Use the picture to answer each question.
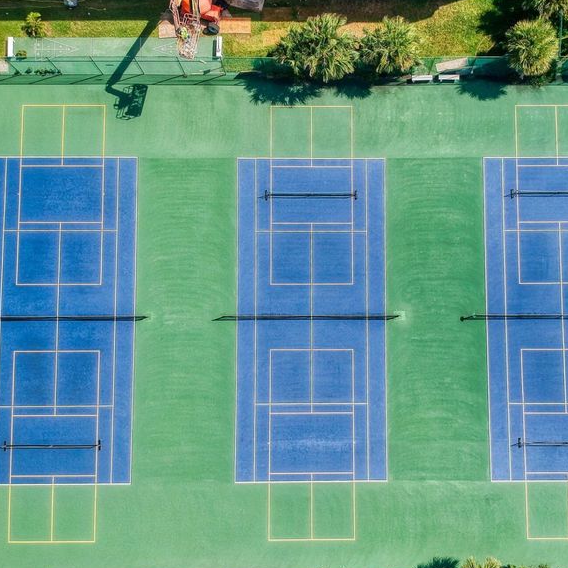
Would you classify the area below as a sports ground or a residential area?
sports ground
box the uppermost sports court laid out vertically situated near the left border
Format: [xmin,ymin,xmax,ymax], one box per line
[17,105,106,284]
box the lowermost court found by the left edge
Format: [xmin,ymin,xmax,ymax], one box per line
[7,351,99,543]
